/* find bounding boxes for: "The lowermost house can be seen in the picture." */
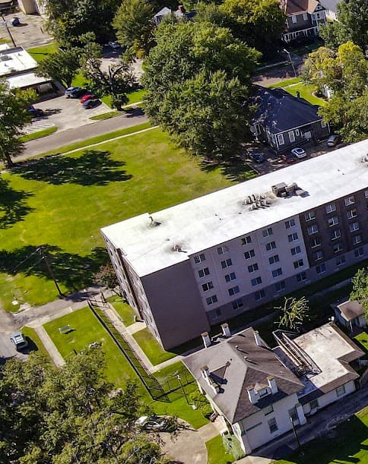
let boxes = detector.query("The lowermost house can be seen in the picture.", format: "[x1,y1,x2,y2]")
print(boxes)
[182,319,368,452]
